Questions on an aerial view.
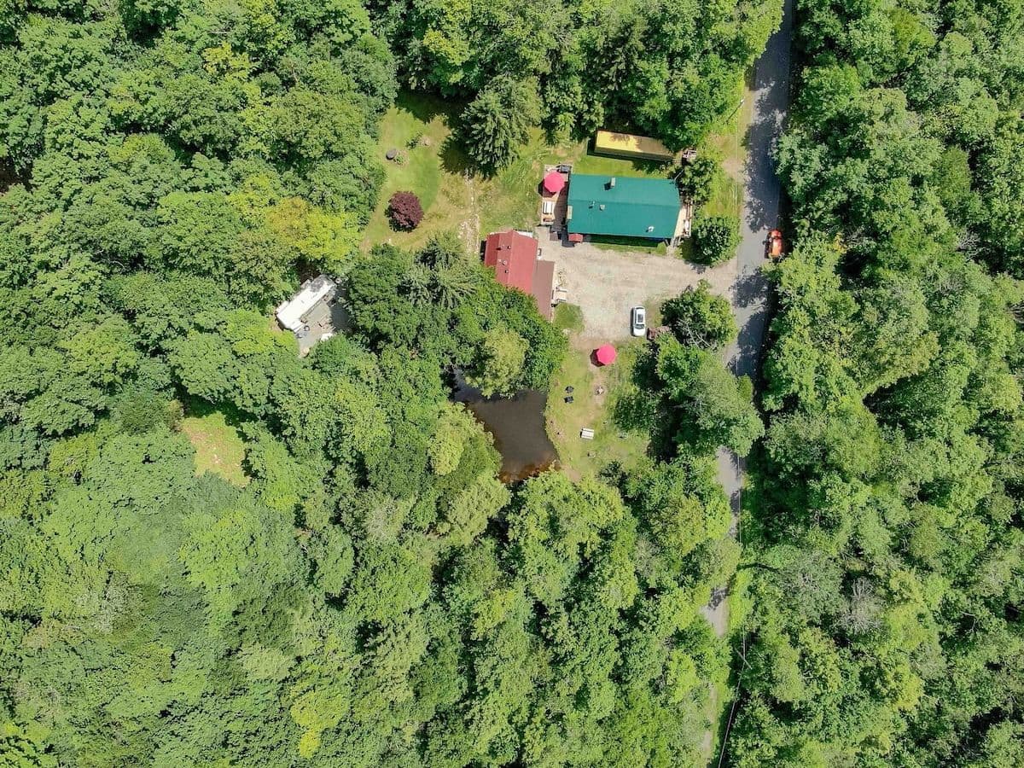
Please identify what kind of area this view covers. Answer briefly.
forest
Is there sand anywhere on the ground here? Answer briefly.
No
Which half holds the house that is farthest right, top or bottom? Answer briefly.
top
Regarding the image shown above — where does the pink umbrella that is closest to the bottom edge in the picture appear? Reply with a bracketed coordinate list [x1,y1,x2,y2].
[594,344,615,365]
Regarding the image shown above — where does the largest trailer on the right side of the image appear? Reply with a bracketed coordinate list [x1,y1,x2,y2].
[593,133,676,164]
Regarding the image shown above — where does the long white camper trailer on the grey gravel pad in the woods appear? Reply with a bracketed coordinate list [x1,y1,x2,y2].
[275,274,339,333]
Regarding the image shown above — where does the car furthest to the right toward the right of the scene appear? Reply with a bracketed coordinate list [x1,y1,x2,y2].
[768,231,783,260]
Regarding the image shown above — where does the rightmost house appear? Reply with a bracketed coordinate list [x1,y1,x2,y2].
[567,174,681,243]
